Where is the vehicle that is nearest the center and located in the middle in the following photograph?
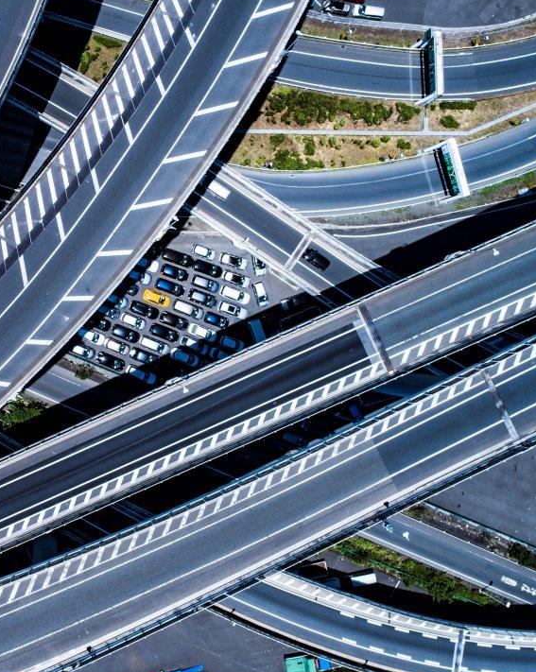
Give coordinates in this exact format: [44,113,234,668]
[247,319,267,347]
